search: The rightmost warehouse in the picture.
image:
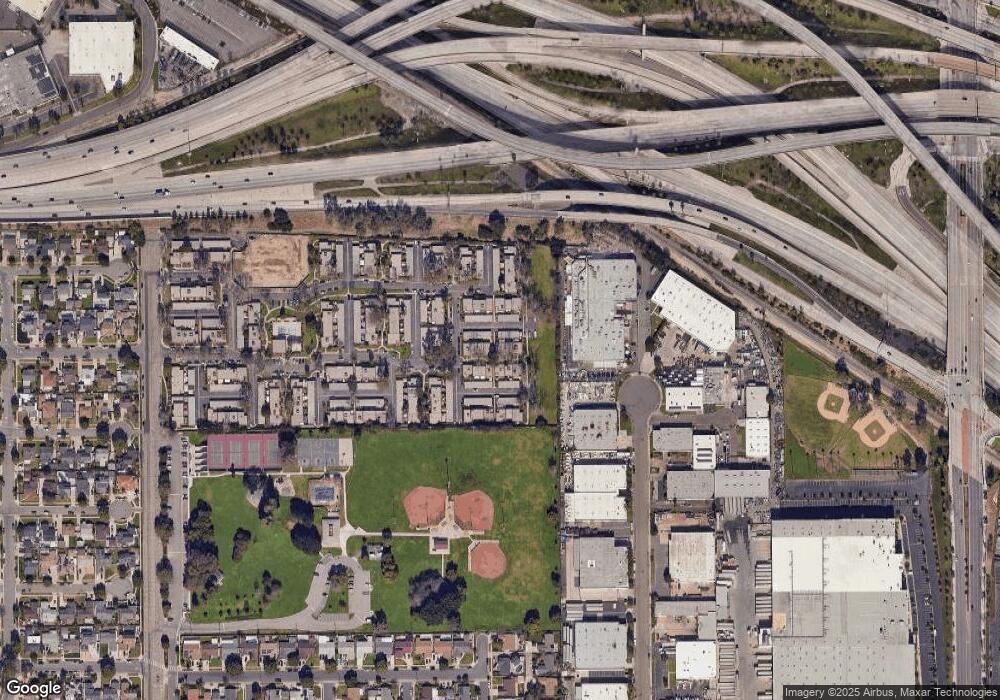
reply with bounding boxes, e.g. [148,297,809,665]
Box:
[772,519,916,700]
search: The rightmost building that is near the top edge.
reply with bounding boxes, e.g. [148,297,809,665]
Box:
[160,26,219,70]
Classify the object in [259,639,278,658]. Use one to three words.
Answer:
house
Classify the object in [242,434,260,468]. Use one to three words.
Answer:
tennis court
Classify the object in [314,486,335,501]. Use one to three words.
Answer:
swimming pool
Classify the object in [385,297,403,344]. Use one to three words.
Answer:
building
